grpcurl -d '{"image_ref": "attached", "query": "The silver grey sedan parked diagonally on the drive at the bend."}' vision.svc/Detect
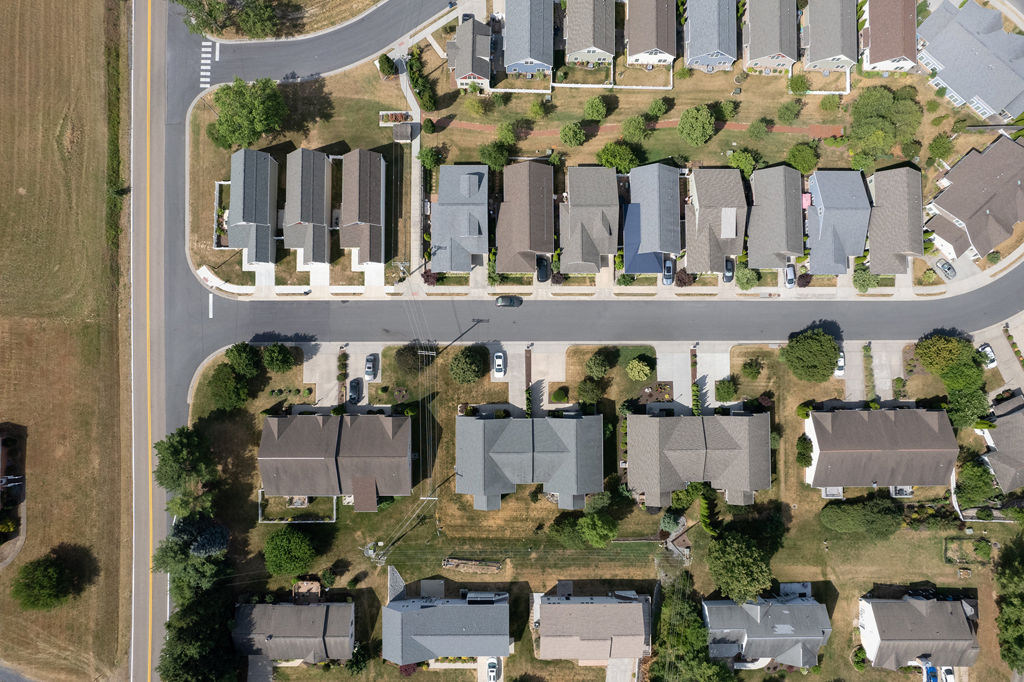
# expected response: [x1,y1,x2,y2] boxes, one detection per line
[934,256,956,281]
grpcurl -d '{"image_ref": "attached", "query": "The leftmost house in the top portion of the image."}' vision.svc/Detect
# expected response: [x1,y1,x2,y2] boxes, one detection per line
[225,150,277,264]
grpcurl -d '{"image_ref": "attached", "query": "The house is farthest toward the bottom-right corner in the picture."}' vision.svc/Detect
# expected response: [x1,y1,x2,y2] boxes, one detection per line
[860,587,986,676]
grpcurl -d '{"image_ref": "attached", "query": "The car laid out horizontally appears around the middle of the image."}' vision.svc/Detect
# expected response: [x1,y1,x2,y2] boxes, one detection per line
[495,295,522,308]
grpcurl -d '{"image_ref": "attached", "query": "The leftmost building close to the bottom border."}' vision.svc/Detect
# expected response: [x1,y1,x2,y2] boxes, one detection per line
[234,582,355,666]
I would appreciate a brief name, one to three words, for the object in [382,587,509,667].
house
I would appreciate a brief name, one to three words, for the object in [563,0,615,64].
house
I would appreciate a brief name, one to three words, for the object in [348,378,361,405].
vehicle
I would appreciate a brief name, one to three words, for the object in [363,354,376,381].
vehicle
